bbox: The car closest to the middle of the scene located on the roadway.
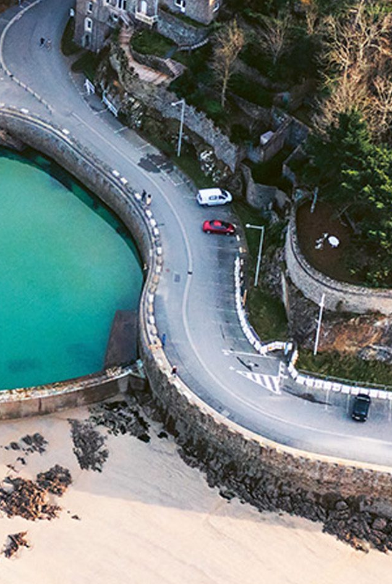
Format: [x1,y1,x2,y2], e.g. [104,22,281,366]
[203,220,236,236]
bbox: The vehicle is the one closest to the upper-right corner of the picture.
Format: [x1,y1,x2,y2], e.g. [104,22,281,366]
[198,188,233,207]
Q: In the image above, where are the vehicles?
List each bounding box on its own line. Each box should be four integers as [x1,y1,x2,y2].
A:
[203,220,236,236]
[350,394,372,421]
[198,188,233,207]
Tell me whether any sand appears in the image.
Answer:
Yes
